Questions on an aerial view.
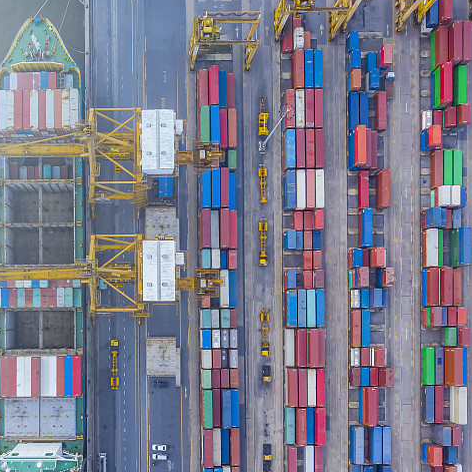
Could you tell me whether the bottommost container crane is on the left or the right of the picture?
left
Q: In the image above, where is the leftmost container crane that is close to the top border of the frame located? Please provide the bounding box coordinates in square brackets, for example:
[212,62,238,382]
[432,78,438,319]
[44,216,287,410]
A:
[188,11,261,71]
